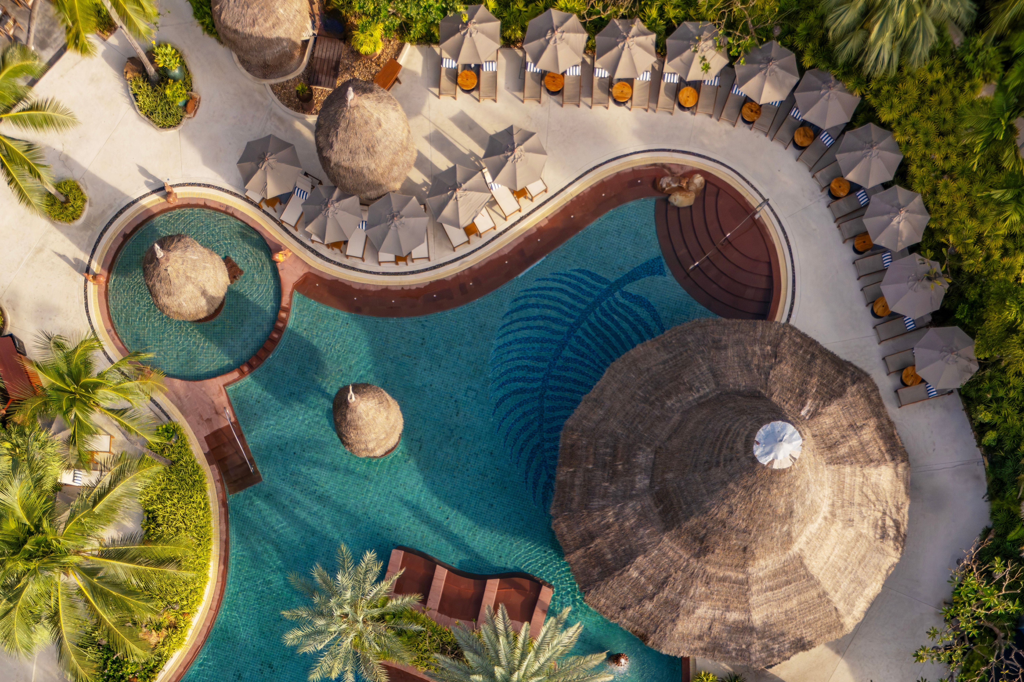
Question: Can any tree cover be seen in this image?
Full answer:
Yes, there's tree cover in this view.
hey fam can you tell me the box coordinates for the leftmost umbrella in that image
[237,135,304,206]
